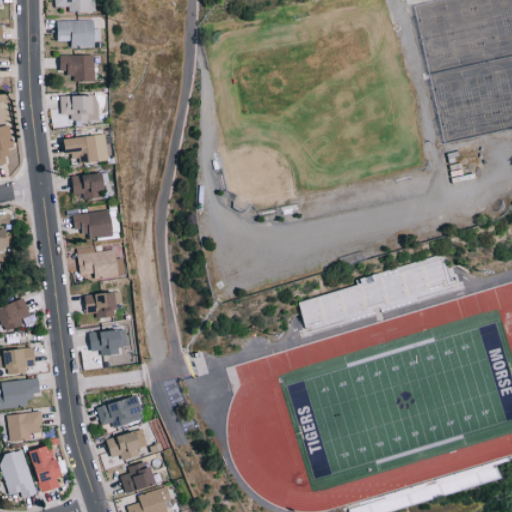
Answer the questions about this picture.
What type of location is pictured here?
sports ground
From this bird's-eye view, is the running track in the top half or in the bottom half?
bottom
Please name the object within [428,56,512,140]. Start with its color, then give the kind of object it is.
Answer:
gray sports court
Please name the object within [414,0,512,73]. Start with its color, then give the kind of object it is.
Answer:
gray sports court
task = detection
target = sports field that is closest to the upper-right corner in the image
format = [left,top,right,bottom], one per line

[203,0,422,209]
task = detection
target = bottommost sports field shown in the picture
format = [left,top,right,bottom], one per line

[280,311,512,488]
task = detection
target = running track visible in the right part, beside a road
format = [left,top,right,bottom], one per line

[227,280,512,511]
